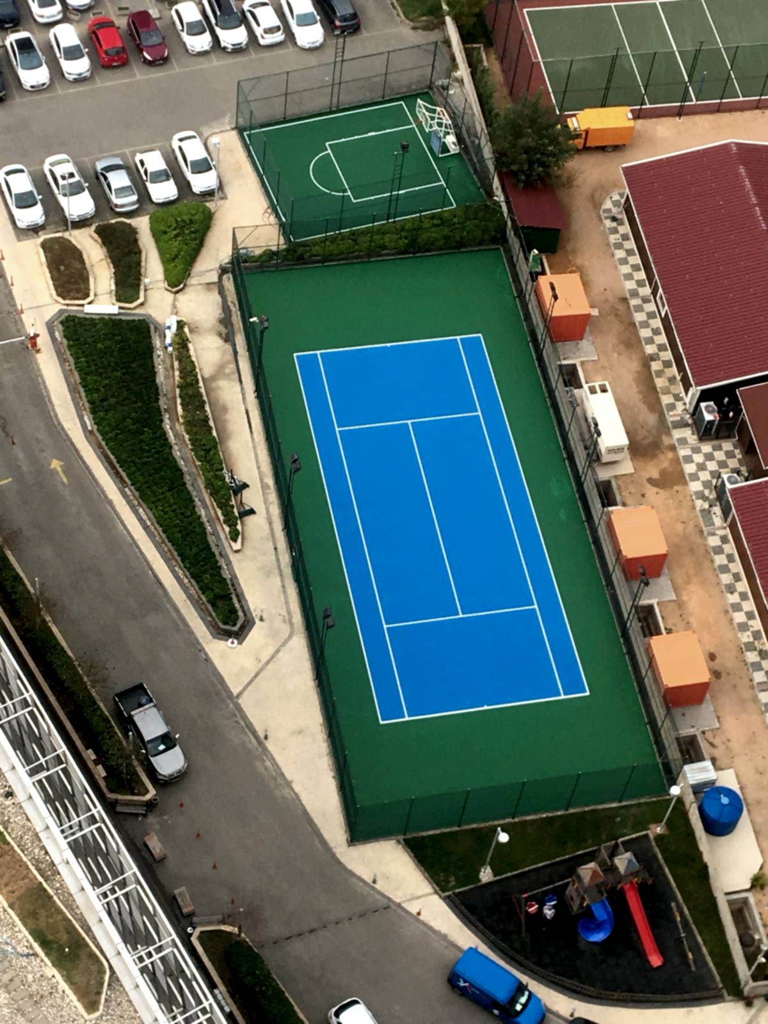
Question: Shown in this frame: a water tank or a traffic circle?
water tank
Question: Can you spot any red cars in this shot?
Yes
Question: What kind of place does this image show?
sports ground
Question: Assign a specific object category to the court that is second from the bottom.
basketball court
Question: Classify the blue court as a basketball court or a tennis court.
tennis court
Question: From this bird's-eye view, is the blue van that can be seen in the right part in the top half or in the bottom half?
bottom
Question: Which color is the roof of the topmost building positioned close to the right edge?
red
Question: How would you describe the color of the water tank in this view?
blue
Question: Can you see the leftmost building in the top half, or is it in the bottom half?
bottom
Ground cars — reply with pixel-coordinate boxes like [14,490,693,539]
[30,0,62,19]
[202,0,249,54]
[277,0,324,51]
[63,0,93,12]
[564,1016,592,1024]
[1,167,47,229]
[130,145,177,206]
[242,3,288,52]
[88,21,131,71]
[315,0,361,38]
[45,159,95,223]
[0,70,9,101]
[127,13,171,67]
[97,161,142,219]
[49,28,93,83]
[7,36,52,93]
[170,2,216,56]
[323,991,378,1024]
[169,135,216,196]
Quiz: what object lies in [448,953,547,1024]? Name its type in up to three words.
van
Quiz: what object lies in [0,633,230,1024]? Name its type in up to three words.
building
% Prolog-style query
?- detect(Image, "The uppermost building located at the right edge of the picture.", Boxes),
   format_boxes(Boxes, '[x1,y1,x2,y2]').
[621,144,768,414]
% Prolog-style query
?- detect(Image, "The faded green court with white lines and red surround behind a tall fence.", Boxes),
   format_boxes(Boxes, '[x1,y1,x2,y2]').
[496,0,768,128]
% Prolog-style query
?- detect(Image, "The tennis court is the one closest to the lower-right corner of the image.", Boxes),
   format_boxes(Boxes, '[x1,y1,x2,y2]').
[247,249,658,811]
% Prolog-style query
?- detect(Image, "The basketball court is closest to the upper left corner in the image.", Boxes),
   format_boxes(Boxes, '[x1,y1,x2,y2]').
[238,90,492,241]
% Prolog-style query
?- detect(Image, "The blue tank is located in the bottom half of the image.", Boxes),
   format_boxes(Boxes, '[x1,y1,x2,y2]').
[697,796,746,847]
